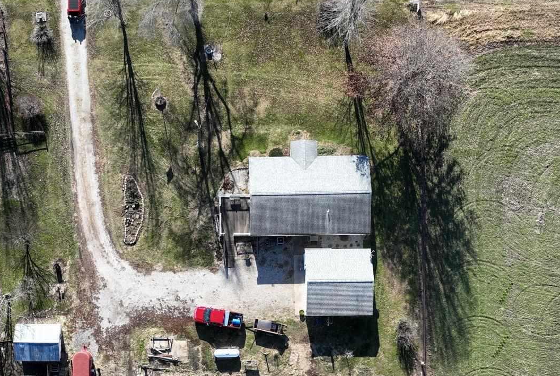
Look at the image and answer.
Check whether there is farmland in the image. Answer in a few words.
Yes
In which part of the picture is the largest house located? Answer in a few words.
center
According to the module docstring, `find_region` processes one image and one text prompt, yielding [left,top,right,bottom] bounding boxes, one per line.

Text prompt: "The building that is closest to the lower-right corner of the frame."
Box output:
[302,247,377,317]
